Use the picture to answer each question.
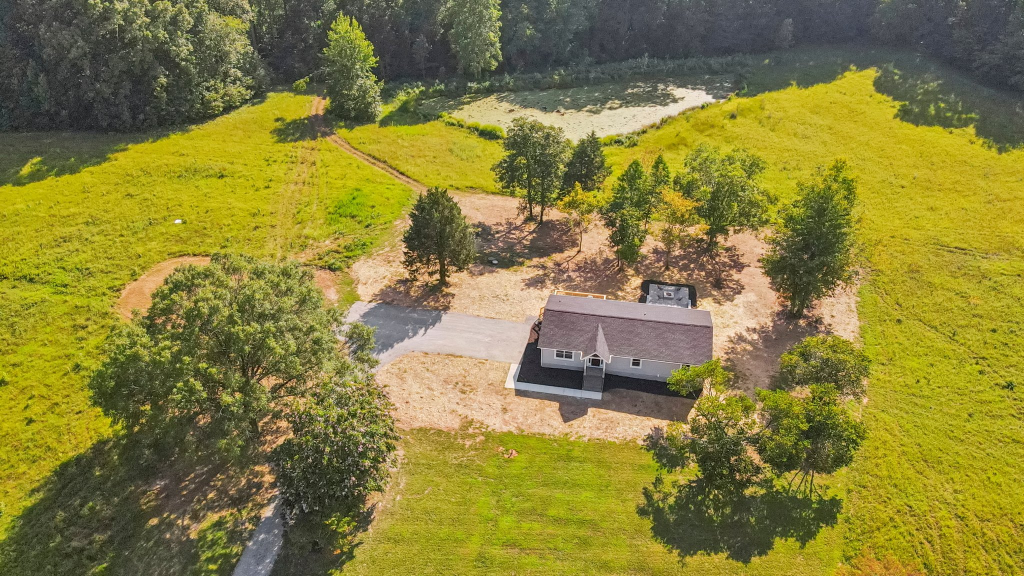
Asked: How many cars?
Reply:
0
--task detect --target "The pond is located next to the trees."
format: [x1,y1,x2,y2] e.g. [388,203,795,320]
[428,79,740,148]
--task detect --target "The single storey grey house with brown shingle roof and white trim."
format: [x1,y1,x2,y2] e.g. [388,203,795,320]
[538,295,713,390]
